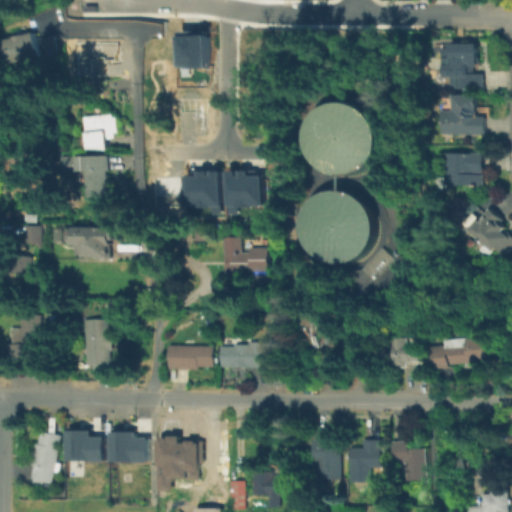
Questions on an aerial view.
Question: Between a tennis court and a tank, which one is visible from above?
tank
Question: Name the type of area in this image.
residential area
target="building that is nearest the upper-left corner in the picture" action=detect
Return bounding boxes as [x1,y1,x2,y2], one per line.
[0,33,32,62]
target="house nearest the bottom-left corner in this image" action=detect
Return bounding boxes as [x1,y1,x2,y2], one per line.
[32,433,60,485]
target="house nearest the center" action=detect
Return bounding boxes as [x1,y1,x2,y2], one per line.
[224,238,267,272]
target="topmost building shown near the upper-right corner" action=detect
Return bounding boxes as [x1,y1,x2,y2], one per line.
[442,42,486,90]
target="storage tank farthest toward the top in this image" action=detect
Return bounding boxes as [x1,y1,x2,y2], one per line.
[300,102,373,175]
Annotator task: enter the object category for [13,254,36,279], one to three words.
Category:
house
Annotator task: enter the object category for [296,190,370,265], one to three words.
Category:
storage tank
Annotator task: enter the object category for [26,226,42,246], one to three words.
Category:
shed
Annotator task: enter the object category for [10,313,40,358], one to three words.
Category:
house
